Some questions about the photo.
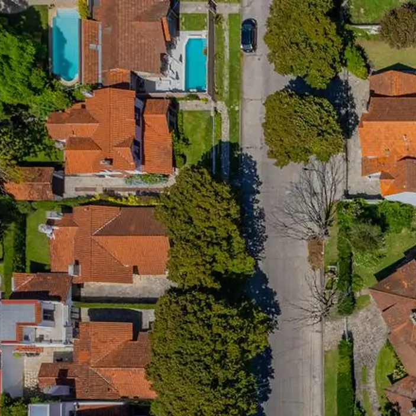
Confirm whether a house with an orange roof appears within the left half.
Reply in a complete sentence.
Yes, a house with an orange roof shows up within the left half.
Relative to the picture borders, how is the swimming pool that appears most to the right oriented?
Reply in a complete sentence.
Seen from above, the swimming pool that appears most to the right lies up and down.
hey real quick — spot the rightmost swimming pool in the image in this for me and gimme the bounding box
[183,37,206,89]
